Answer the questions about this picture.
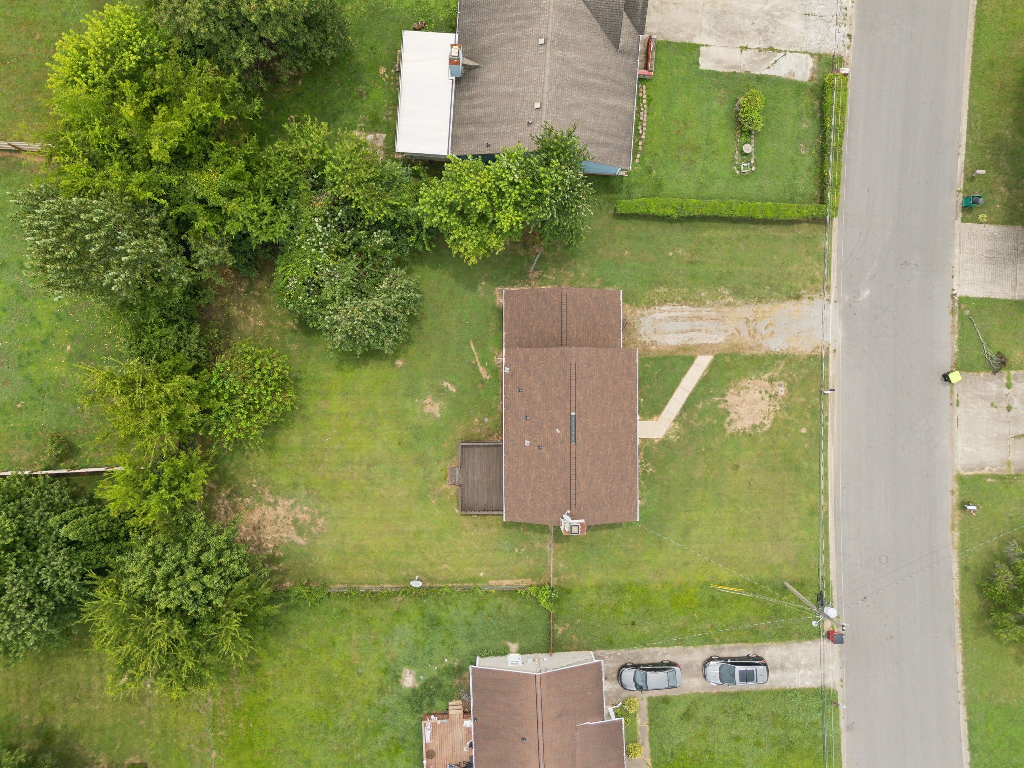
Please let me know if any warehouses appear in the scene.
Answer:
No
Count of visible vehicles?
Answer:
2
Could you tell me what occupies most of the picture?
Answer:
grass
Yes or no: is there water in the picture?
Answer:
No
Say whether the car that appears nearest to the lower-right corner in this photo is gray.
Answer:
Yes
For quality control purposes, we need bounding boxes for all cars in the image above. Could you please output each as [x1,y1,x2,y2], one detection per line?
[702,654,770,691]
[618,659,683,694]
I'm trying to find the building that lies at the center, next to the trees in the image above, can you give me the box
[501,288,641,536]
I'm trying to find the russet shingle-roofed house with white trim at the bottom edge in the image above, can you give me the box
[468,651,628,768]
